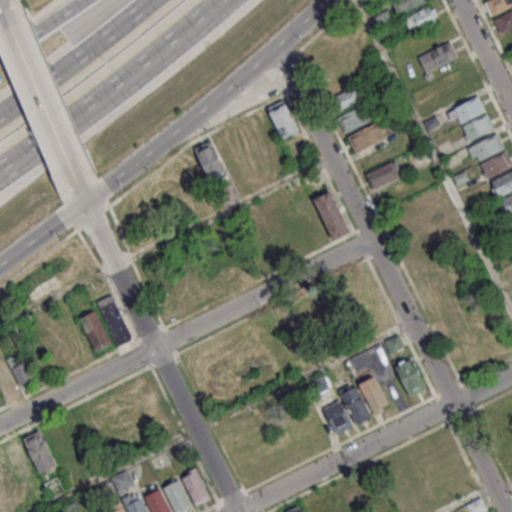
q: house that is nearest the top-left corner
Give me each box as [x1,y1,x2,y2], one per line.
[197,138,228,177]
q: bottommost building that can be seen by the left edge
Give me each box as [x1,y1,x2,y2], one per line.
[22,429,56,472]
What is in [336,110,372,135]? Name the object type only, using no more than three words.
house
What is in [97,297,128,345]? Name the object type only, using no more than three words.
house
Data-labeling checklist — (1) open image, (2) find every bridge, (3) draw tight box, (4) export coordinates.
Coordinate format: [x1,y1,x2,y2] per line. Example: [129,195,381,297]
[0,0,99,200]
